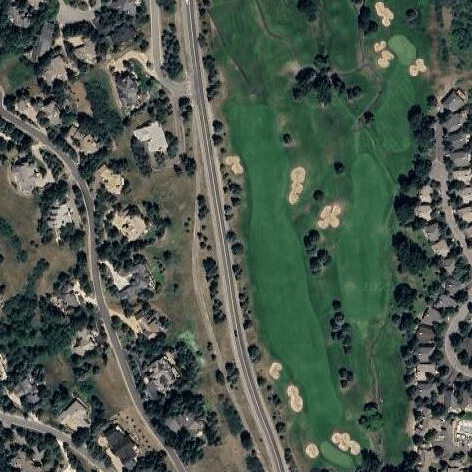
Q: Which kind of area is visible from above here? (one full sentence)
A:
This looks like a golf course.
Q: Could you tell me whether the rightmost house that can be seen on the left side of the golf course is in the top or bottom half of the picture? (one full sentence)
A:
You can find the rightmost house that can be seen on the left side of the golf course in the bottom half.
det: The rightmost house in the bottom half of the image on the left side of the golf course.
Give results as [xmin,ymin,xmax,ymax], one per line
[167,407,202,436]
